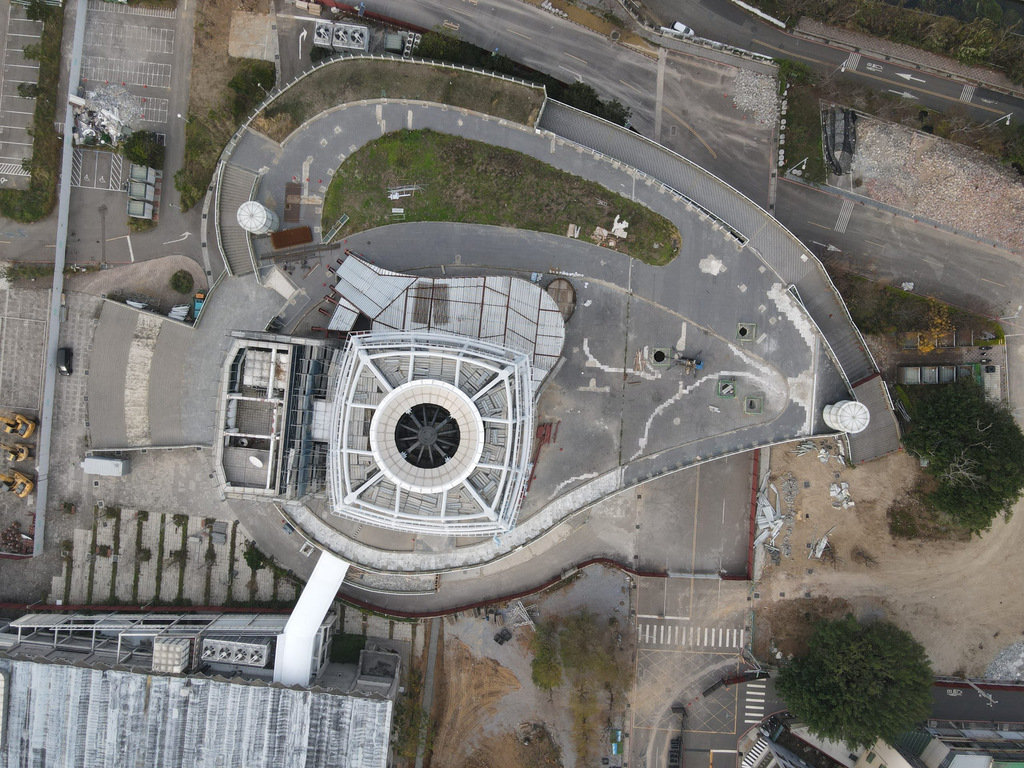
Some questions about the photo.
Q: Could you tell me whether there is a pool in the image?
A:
No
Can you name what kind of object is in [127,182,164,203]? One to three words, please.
shed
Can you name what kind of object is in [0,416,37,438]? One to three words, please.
work vehicle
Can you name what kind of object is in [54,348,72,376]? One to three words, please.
car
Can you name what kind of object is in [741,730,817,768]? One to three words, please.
house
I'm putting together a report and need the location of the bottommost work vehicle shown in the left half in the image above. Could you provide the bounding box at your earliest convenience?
[0,474,35,498]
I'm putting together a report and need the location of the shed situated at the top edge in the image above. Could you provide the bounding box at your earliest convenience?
[384,34,404,55]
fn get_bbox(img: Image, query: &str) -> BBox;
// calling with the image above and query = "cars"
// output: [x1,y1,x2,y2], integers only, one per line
[54,348,72,376]
[670,16,698,38]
